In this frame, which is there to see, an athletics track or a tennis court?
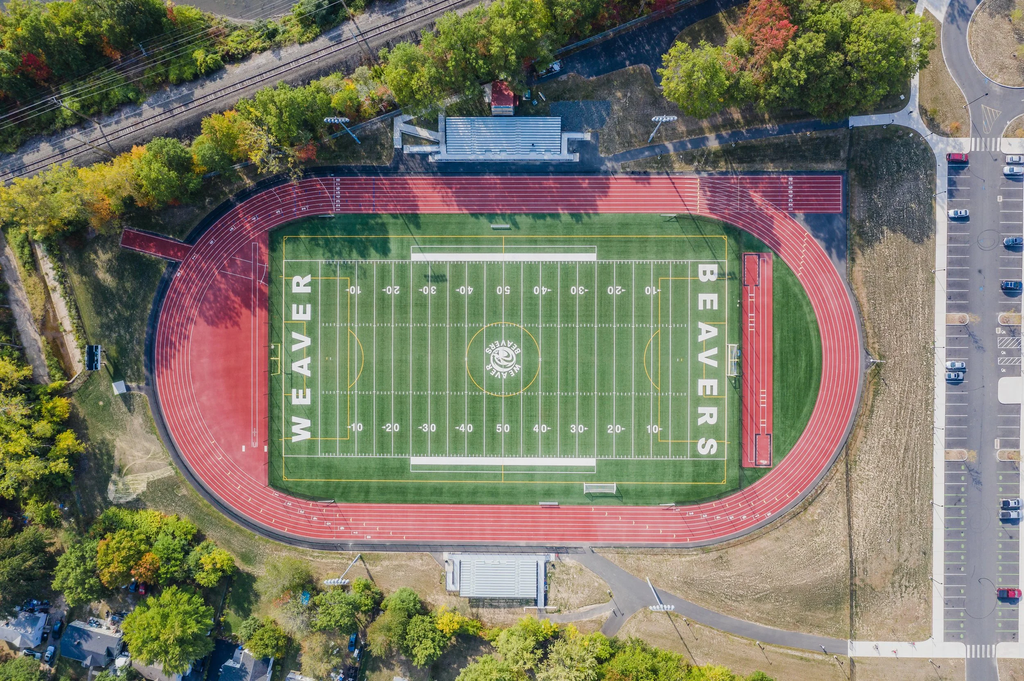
athletics track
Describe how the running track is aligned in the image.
from side to side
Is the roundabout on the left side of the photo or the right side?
right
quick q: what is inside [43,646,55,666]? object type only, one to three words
vehicle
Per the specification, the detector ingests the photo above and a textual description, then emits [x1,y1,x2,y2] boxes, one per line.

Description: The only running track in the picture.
[121,174,861,543]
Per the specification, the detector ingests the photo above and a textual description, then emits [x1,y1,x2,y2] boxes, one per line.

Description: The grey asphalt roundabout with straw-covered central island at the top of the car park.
[942,0,1024,143]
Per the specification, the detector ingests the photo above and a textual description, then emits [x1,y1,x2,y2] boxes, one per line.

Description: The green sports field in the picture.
[268,212,824,506]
